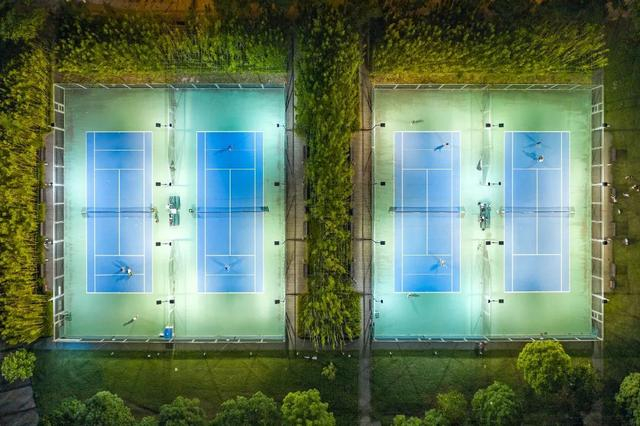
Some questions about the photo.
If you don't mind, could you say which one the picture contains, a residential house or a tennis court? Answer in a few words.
tennis court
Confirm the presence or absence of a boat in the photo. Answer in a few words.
No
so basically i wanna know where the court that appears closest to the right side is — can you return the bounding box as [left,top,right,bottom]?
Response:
[483,88,592,337]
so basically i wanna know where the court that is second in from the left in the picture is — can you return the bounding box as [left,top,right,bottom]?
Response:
[174,88,286,337]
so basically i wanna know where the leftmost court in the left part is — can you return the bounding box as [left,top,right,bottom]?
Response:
[64,88,174,337]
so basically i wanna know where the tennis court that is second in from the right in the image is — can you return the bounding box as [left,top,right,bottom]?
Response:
[374,88,483,337]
